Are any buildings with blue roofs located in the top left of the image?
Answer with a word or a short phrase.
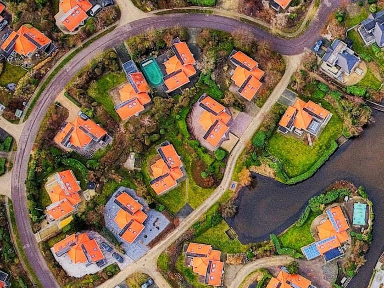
No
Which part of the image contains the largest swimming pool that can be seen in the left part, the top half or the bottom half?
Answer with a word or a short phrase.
top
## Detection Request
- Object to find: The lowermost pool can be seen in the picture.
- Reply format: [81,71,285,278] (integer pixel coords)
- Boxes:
[352,202,366,226]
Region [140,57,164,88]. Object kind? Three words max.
swimming pool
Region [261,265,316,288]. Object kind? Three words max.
house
